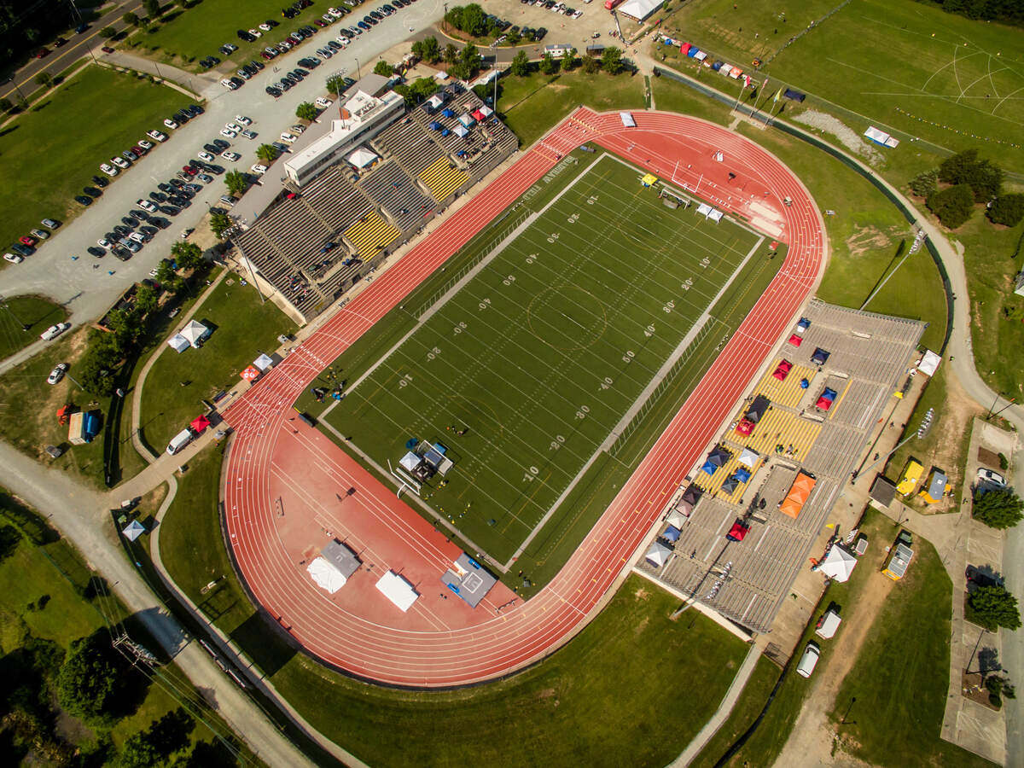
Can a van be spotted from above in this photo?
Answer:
Yes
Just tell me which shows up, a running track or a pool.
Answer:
running track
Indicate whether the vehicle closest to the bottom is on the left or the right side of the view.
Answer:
right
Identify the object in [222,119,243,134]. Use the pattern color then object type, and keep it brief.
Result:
white vehicle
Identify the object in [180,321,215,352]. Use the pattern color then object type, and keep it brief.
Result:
white tent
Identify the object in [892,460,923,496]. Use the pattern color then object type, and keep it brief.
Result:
yellow truck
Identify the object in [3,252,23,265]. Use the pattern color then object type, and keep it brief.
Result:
white vehicle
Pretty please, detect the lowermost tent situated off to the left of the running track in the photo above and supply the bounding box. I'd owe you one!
[119,517,155,547]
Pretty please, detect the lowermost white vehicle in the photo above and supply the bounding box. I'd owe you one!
[795,641,822,678]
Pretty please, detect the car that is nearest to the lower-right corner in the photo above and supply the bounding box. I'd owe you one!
[969,567,999,585]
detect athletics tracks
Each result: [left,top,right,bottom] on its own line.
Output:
[222,112,823,688]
